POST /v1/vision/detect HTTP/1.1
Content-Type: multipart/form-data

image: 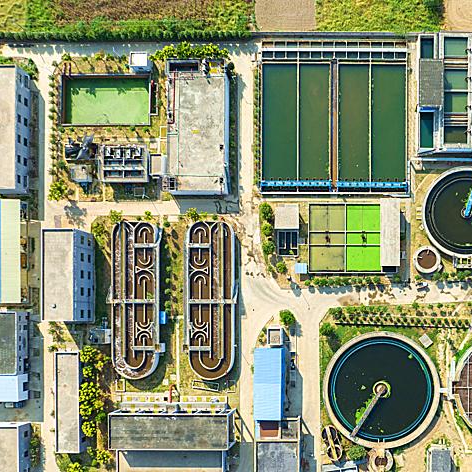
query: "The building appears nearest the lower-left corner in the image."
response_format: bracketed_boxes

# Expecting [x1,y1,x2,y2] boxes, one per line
[0,421,31,472]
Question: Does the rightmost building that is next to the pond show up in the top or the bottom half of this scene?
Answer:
top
